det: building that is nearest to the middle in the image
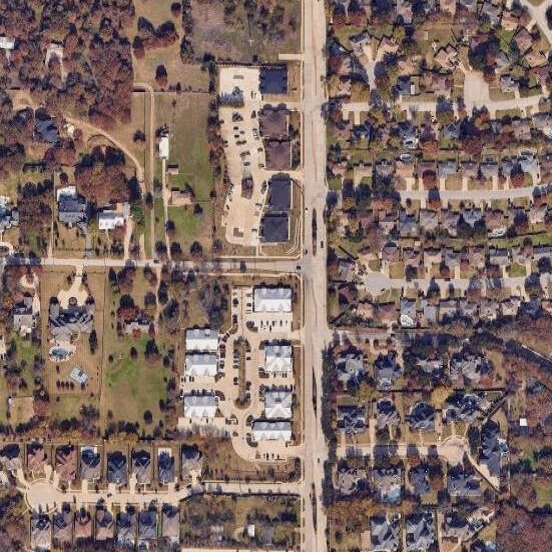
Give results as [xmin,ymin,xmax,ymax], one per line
[254,288,292,313]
